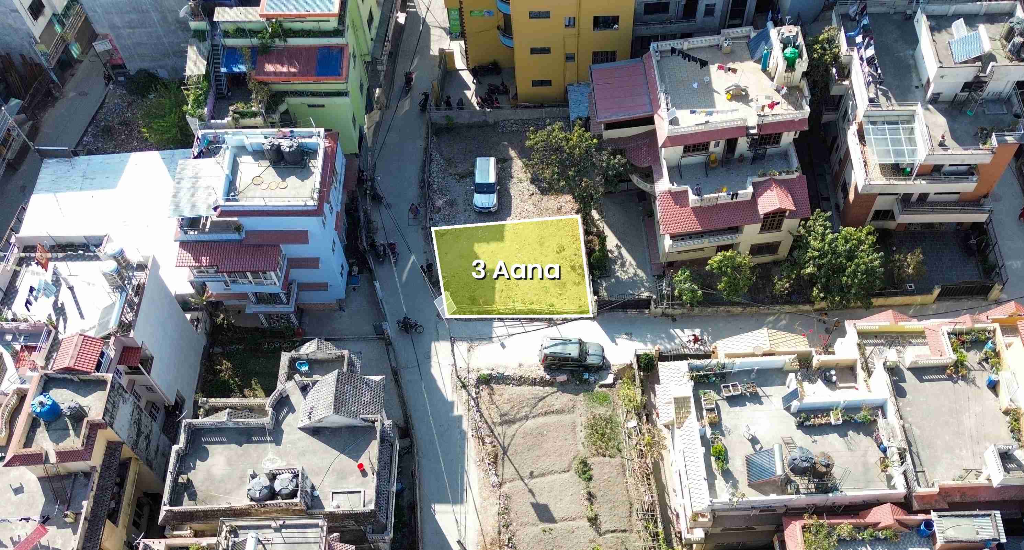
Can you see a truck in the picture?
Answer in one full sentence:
No, I can see no truck in this picture.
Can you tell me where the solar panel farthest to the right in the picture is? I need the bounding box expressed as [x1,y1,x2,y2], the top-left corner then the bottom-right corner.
[776,380,805,416]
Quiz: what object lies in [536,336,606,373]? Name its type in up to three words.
car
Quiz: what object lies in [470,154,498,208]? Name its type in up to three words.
car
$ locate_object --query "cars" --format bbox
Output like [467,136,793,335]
[470,154,498,208]
[536,336,606,373]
